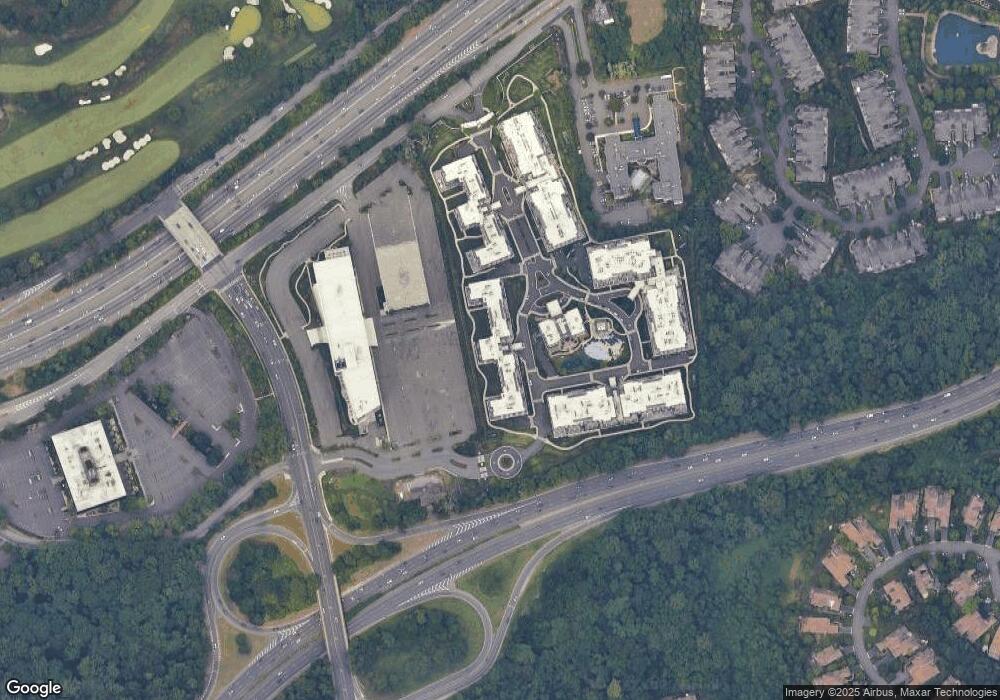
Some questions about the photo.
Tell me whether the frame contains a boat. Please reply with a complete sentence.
No, I can't see a single boat in this photo.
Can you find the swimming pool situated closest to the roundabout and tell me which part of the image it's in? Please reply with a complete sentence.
The swimming pool situated closest to the roundabout is located in the center region of the scene.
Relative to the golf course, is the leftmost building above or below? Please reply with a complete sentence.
Within the scene, the leftmost building can be found below the golf course.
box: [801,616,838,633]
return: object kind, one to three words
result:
house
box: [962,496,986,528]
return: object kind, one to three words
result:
house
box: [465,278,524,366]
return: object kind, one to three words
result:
building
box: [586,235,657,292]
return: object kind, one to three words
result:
building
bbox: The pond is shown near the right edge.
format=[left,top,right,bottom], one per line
[935,13,1000,66]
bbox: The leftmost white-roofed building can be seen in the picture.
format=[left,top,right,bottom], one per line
[52,421,127,514]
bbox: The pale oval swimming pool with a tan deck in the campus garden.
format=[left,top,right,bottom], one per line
[583,339,622,361]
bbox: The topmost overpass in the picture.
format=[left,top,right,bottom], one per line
[157,198,226,270]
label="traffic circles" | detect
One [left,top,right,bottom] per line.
[490,446,522,478]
